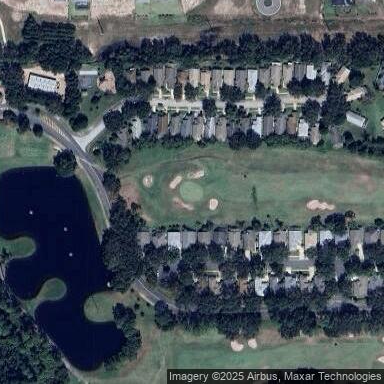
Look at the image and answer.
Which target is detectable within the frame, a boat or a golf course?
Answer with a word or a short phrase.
golf course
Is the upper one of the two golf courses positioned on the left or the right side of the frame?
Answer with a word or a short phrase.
right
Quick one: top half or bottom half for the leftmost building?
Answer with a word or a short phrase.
top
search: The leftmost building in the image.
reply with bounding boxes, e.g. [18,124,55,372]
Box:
[27,73,58,93]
